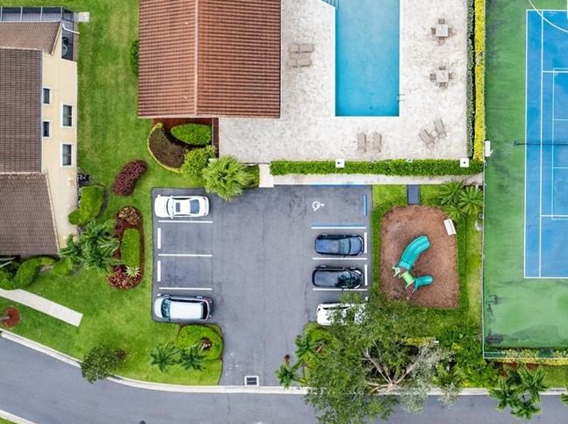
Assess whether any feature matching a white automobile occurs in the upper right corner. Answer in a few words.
No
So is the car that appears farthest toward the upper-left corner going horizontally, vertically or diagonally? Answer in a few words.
horizontally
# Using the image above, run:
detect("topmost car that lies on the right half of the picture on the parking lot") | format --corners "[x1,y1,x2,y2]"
[315,234,366,260]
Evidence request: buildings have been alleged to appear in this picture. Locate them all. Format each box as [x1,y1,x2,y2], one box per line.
[0,20,79,256]
[137,0,282,119]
